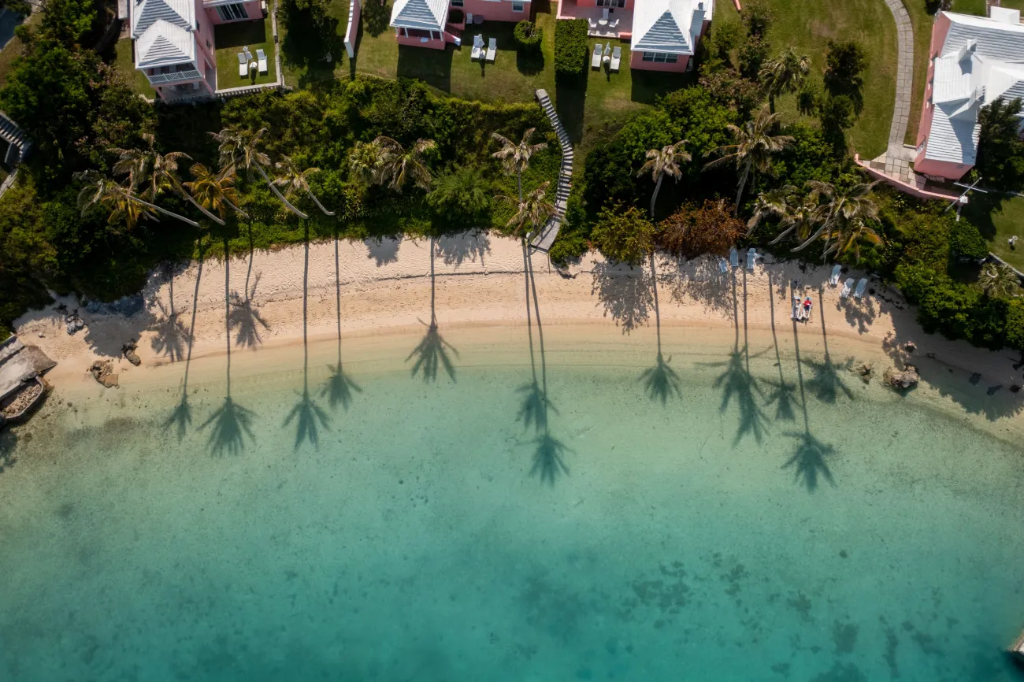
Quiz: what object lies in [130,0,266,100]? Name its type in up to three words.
house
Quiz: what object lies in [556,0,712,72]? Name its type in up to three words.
house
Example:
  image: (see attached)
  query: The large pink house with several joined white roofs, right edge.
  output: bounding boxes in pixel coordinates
[914,2,1024,183]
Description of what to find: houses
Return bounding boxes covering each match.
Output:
[130,0,266,100]
[389,0,532,49]
[914,2,1024,183]
[556,0,712,72]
